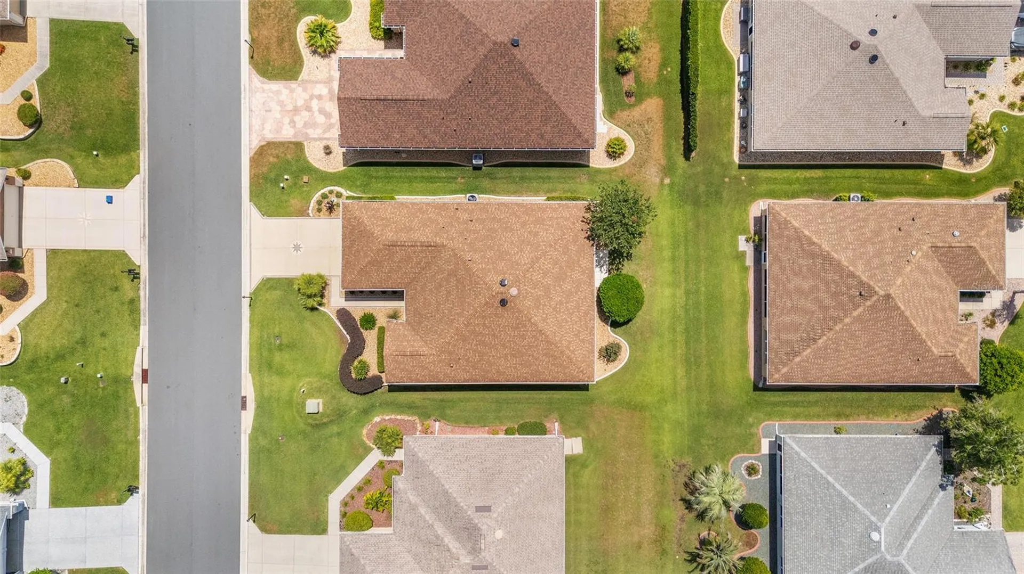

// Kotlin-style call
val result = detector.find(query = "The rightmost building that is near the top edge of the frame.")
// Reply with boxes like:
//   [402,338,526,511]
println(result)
[747,0,1024,154]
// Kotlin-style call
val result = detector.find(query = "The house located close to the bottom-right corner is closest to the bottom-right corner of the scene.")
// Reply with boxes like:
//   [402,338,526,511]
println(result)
[776,434,1017,574]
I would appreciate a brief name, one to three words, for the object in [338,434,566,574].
house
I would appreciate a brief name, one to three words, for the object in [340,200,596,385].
house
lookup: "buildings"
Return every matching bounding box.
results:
[0,168,29,261]
[0,499,28,574]
[762,199,1008,386]
[747,0,1024,154]
[340,200,596,385]
[333,0,599,152]
[0,0,31,25]
[338,434,566,574]
[776,434,1017,574]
